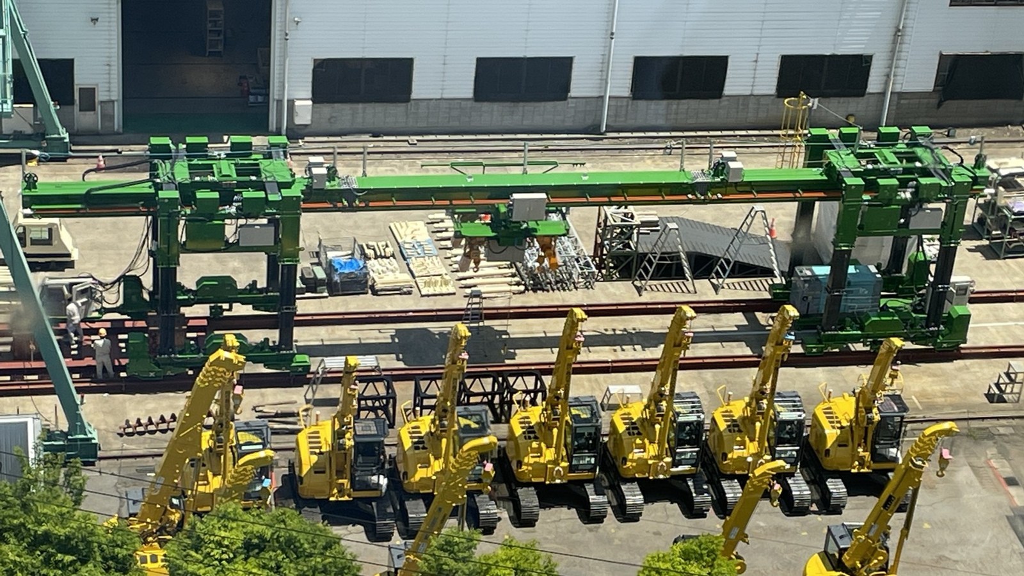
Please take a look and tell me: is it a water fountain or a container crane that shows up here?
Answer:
container crane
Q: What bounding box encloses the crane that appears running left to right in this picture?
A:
[20,121,997,373]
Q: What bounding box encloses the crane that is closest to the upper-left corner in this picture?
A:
[0,0,101,462]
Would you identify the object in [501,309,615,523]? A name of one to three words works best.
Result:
crane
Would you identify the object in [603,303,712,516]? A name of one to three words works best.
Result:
crane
